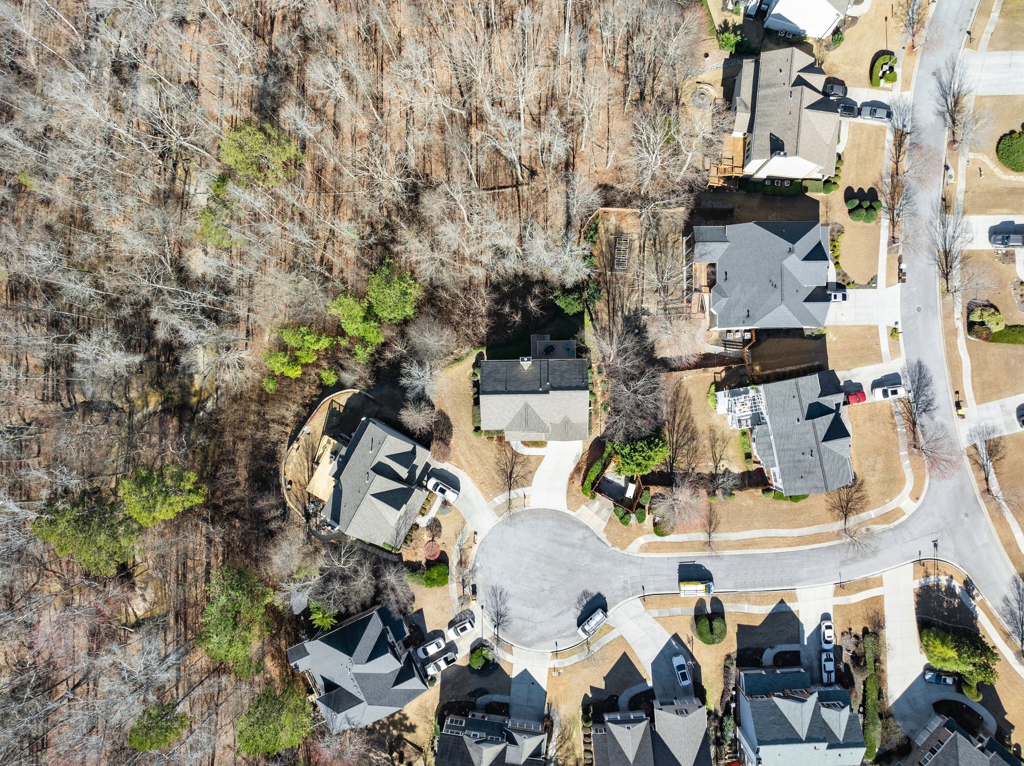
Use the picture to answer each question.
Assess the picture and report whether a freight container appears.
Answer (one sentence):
No, I can see no freight container in this picture.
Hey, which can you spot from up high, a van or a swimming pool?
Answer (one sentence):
Of the two, only a van appears.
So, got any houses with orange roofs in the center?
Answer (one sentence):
No, no house with an orange roof appears in the center.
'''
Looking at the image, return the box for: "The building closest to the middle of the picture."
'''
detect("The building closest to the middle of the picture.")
[479,334,589,441]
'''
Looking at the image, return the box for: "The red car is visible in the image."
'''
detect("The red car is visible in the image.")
[841,390,866,407]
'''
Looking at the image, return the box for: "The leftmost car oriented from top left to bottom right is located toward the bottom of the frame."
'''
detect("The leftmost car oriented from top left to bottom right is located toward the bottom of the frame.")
[427,478,459,504]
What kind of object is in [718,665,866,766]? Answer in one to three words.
house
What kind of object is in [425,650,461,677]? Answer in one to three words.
truck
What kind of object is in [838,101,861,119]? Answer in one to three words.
car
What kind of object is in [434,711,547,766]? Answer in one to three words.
house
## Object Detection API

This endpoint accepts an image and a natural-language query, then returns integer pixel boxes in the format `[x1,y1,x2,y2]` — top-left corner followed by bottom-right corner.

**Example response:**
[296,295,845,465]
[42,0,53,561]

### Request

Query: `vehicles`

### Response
[419,636,448,658]
[819,651,836,683]
[822,81,848,98]
[678,579,715,597]
[841,390,866,407]
[427,478,459,504]
[871,385,905,402]
[828,288,850,303]
[989,232,1024,248]
[838,101,861,119]
[672,654,692,688]
[576,606,611,640]
[819,618,835,650]
[445,616,478,641]
[425,650,461,677]
[860,105,892,121]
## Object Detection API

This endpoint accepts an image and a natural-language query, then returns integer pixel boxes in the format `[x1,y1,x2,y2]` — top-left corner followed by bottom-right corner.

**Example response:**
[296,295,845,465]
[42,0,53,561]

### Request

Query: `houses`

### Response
[725,0,855,39]
[716,370,854,496]
[304,418,430,549]
[479,334,589,441]
[718,665,866,766]
[287,601,429,735]
[708,47,840,189]
[688,221,831,332]
[889,710,1024,766]
[434,711,547,766]
[590,691,712,766]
